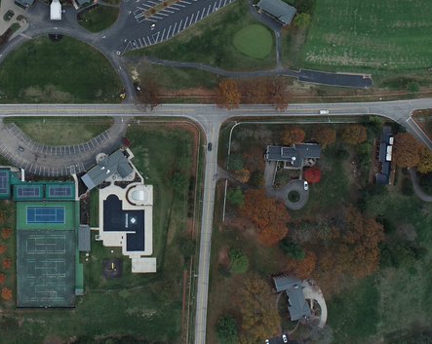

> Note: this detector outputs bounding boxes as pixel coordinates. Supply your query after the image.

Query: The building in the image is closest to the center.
[266,144,322,168]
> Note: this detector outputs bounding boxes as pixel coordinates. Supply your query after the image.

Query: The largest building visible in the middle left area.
[81,149,134,192]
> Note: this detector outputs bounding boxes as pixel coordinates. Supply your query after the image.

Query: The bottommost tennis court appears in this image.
[17,280,75,309]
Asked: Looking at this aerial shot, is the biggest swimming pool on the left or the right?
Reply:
left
